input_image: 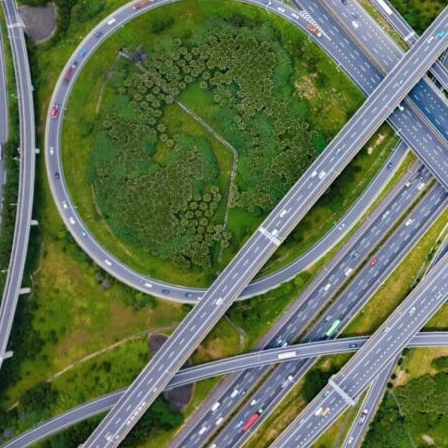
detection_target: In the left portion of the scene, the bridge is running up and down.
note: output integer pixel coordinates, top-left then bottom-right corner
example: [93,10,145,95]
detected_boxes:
[0,23,42,369]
